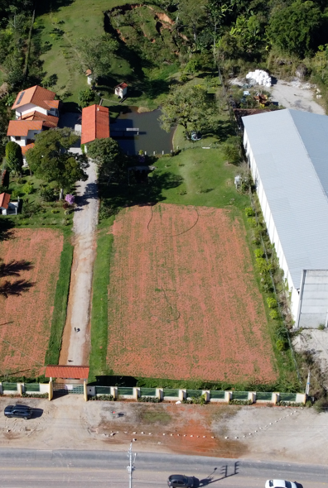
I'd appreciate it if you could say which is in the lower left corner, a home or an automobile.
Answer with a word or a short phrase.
automobile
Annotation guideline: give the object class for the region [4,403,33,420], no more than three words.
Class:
car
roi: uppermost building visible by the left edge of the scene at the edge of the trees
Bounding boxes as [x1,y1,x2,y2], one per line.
[3,87,65,164]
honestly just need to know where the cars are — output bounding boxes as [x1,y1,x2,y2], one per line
[265,478,299,488]
[4,403,33,420]
[167,471,196,488]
